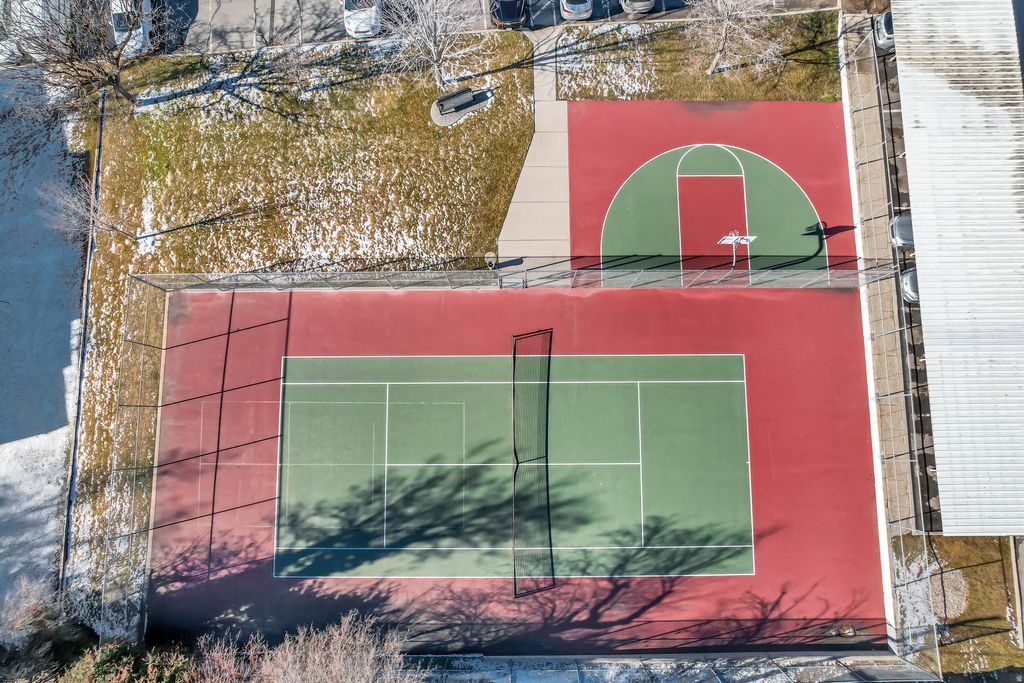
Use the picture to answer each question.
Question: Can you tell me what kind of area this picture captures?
sports ground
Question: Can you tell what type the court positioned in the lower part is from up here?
tennis court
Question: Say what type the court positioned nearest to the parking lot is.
basketball court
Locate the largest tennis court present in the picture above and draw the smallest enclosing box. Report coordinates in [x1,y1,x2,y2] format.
[146,285,889,652]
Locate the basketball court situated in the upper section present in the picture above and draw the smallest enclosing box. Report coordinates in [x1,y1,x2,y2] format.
[568,99,858,286]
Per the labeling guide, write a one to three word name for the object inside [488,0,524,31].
car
